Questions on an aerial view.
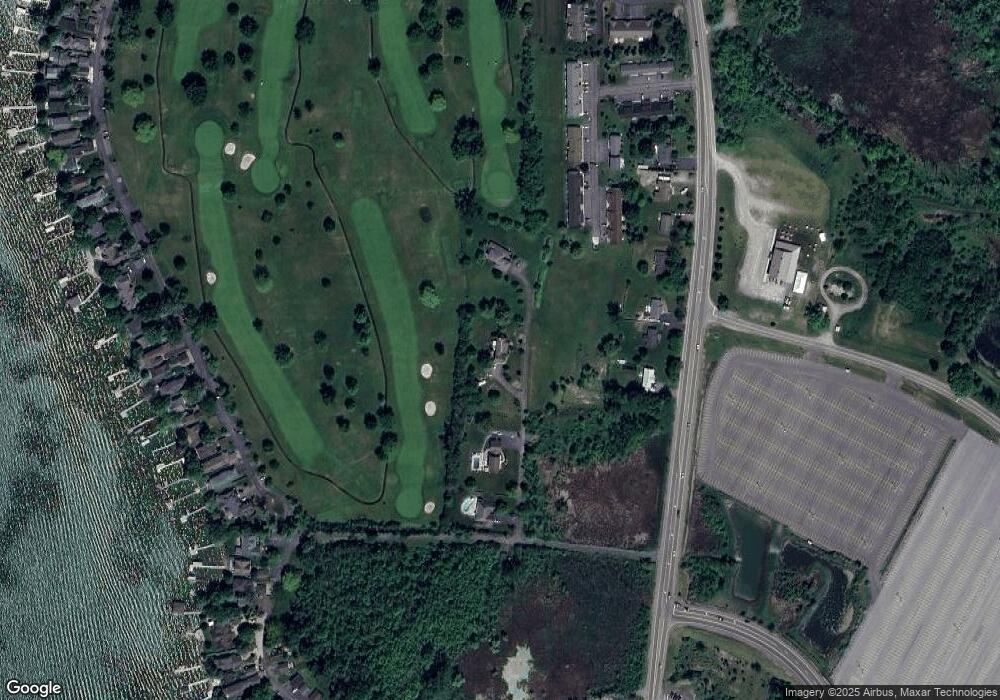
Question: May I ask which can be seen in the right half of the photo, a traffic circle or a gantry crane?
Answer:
traffic circle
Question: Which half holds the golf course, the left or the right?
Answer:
left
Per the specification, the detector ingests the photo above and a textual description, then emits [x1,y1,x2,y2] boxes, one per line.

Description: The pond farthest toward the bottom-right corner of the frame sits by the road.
[782,544,848,647]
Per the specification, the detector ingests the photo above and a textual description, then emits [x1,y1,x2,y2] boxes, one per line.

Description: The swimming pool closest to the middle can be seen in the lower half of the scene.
[472,452,486,471]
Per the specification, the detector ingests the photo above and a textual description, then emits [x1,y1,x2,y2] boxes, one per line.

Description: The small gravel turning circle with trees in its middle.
[819,267,867,344]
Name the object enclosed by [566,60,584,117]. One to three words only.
building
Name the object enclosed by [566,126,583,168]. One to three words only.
building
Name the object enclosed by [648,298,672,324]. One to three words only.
house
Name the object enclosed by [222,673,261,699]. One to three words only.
house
